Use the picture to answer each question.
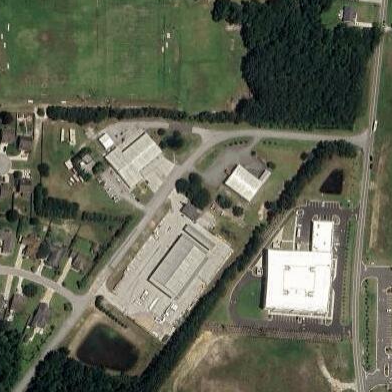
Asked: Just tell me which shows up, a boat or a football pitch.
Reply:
football pitch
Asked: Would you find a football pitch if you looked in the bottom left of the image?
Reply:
No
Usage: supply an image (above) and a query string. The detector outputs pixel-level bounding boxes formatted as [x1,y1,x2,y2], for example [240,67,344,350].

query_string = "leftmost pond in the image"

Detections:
[76,322,139,370]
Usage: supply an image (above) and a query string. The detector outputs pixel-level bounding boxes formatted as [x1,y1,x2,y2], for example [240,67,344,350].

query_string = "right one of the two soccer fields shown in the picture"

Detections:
[99,0,163,93]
